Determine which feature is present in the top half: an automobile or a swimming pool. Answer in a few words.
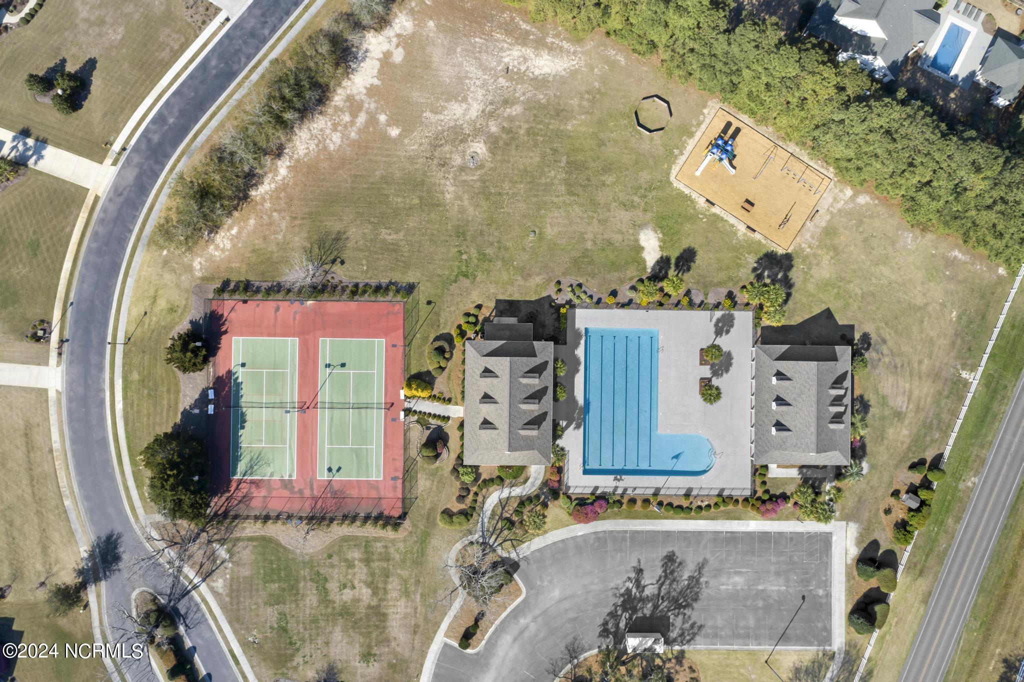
swimming pool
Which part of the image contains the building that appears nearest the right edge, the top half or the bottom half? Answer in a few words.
top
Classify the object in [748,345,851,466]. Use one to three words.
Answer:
building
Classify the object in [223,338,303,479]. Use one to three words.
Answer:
tennis court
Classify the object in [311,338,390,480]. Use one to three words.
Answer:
tennis court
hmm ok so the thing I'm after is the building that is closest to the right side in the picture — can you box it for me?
[964,34,1024,103]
